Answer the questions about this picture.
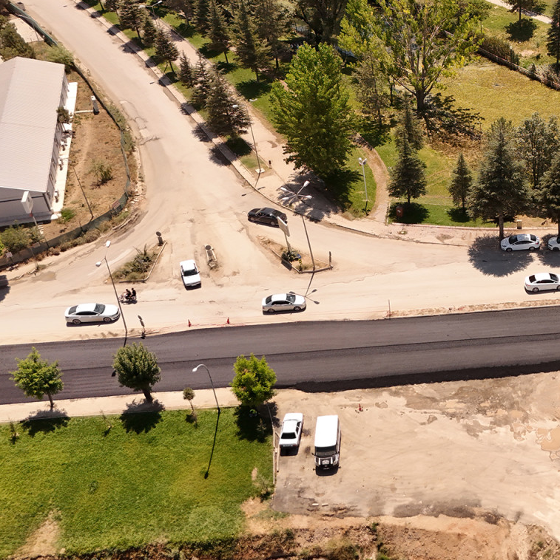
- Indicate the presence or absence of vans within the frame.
Yes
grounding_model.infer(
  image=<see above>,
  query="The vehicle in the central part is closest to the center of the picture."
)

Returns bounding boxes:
[260,292,307,313]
